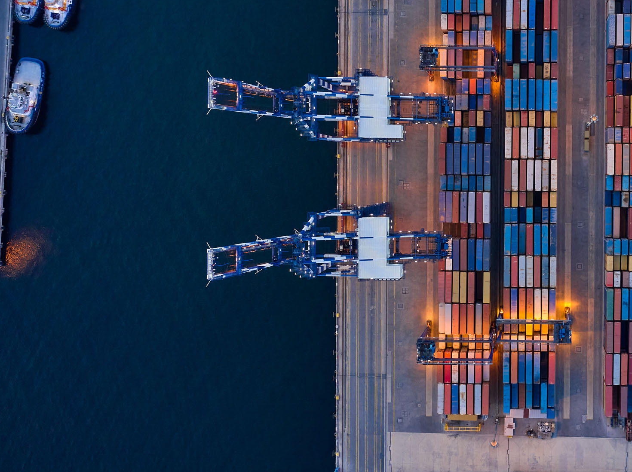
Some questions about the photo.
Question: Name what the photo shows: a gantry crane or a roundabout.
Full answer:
Of the two, only a gantry crane appears.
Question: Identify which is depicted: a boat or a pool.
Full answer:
This aerial view contains a boat.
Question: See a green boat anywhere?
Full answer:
No, the photo shows no green boat.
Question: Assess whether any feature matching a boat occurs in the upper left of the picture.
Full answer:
Yes, a boat is visible in the upper left of the picture.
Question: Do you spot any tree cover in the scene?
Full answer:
No, the picture contains no tree cover.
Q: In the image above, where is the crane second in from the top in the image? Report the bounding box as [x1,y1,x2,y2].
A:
[206,63,456,151]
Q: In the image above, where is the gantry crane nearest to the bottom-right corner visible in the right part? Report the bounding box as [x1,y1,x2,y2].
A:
[496,303,573,348]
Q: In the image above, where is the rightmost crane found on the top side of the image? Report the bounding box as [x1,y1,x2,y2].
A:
[420,42,499,82]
